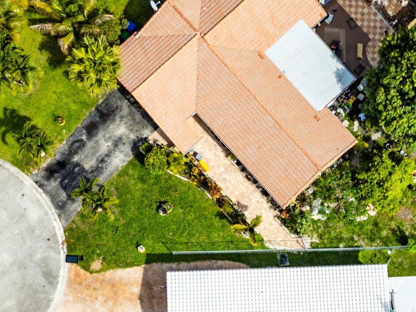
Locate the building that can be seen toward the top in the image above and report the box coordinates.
[119,0,358,209]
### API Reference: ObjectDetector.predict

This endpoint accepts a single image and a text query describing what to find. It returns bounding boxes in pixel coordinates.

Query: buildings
[167,264,390,312]
[119,0,358,209]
